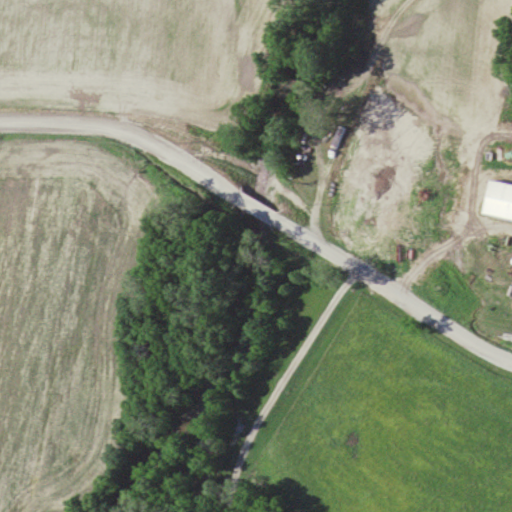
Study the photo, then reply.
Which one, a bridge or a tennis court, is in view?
bridge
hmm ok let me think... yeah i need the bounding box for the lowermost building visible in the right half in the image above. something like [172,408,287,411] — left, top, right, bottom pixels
[482,182,512,220]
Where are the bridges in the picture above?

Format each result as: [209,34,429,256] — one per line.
[230,190,281,230]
